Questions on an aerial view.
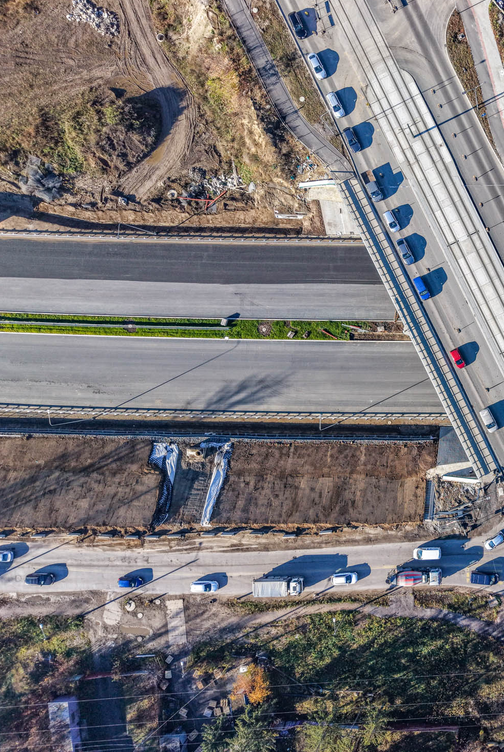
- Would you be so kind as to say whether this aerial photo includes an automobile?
Yes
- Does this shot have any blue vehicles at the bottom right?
Yes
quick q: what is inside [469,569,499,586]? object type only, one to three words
vehicle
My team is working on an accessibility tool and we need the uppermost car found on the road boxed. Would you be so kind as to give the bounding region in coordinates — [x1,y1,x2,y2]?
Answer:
[287,10,309,41]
